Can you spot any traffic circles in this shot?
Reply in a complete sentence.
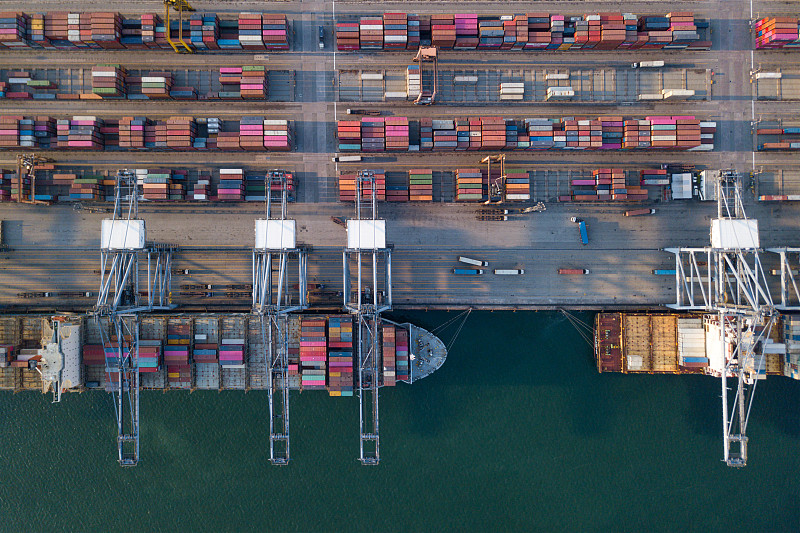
No, I find no traffic circle anywhere in the image.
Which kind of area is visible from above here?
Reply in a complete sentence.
It's a port.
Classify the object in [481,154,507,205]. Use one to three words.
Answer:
container crane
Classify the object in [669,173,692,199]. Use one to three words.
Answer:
building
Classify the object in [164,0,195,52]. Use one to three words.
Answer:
container crane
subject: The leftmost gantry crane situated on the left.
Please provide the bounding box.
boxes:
[17,150,56,205]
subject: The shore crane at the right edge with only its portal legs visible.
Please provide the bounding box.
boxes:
[761,244,800,309]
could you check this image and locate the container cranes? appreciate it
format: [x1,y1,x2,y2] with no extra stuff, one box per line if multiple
[164,0,195,52]
[659,168,781,466]
[337,168,400,466]
[416,48,438,103]
[17,150,56,205]
[86,168,193,466]
[481,154,507,205]
[248,167,325,466]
